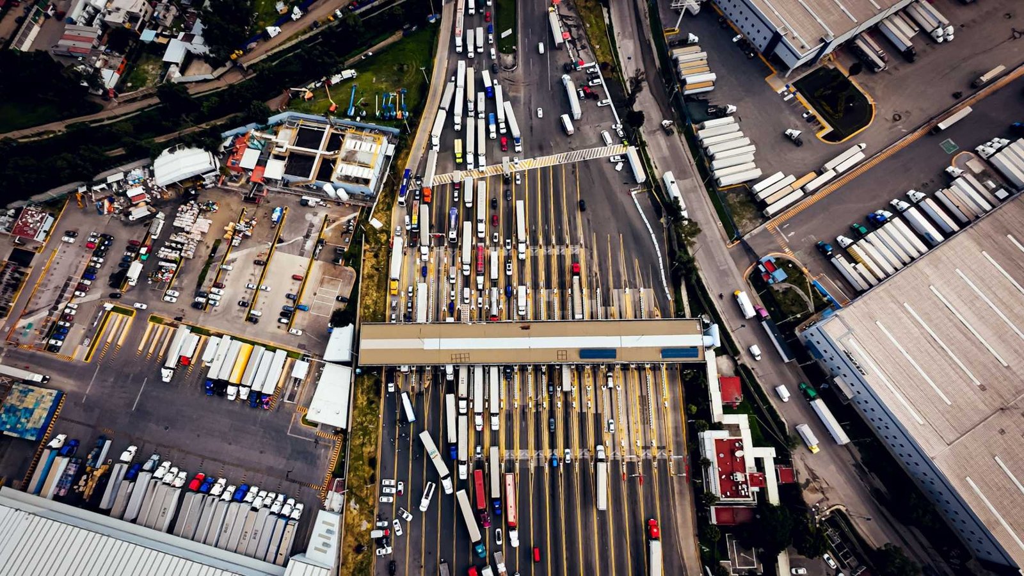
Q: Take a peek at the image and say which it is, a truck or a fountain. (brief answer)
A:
truck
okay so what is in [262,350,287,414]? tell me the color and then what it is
white truck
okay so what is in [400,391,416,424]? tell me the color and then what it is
white vehicle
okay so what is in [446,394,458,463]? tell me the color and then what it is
white vehicle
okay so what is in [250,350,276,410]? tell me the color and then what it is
white truck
